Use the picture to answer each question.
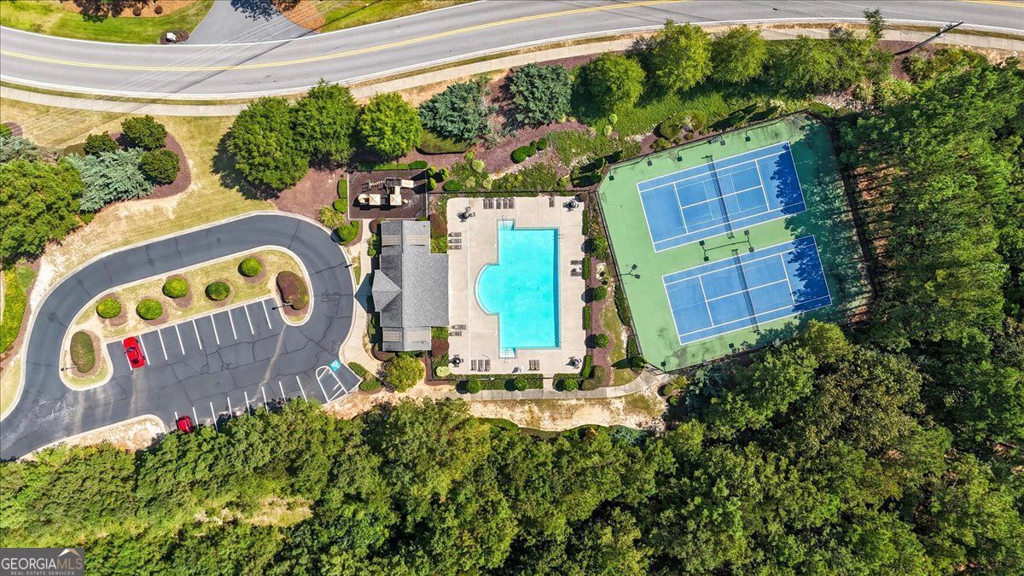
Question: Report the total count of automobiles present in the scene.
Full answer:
In total, there are 2 automobiles in the scene.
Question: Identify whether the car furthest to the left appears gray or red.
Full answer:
The color of the car furthest to the left is red.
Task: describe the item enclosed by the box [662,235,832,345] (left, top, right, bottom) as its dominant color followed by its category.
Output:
blue tennis court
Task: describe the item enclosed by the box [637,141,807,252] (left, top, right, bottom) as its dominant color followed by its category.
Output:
blue tennis court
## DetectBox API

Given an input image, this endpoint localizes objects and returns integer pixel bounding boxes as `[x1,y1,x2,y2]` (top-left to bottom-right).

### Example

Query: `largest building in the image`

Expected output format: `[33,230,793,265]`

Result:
[372,220,450,353]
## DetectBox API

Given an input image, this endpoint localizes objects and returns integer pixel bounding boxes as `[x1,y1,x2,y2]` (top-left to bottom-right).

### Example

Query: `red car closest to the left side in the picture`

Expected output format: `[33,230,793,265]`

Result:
[125,336,146,368]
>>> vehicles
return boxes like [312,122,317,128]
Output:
[178,415,199,444]
[125,336,146,368]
